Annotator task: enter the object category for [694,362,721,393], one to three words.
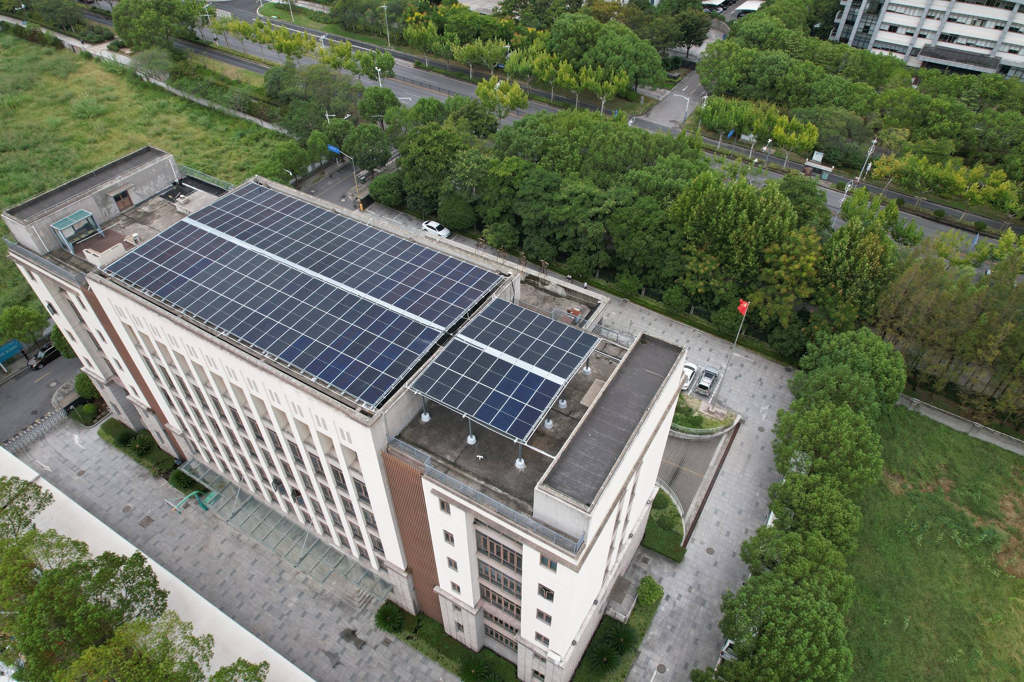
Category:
car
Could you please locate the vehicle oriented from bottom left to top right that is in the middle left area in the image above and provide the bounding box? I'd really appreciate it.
[18,333,64,366]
